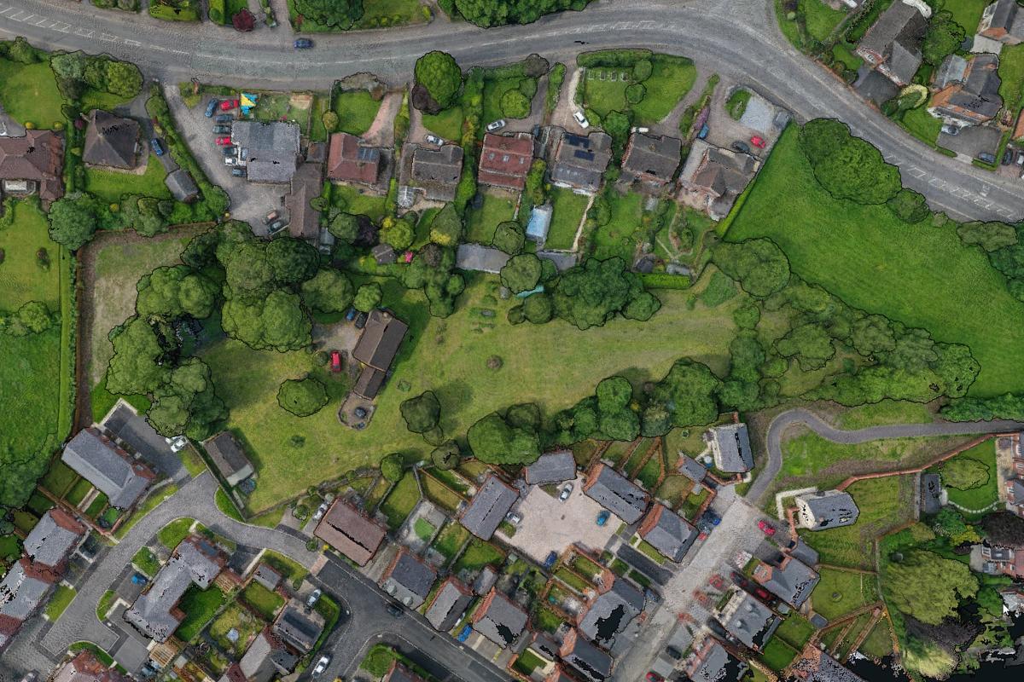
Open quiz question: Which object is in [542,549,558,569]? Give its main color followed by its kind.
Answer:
blue car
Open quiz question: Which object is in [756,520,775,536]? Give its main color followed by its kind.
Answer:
red car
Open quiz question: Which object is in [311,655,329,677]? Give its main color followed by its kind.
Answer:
white car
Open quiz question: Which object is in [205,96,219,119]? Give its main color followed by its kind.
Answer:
blue car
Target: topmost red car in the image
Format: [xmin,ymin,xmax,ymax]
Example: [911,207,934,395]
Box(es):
[220,97,240,110]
